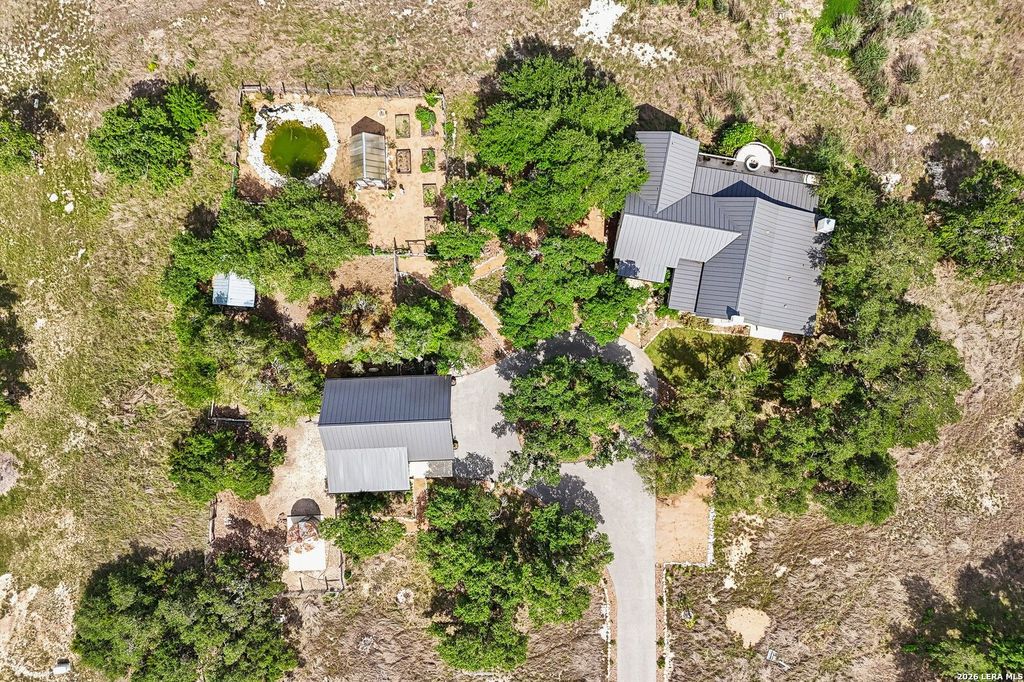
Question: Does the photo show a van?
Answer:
No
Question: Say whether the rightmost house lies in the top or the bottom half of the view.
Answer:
top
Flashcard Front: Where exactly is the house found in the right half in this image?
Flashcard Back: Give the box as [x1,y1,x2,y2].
[613,131,836,336]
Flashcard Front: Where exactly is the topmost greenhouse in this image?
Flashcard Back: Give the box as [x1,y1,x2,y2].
[348,132,389,189]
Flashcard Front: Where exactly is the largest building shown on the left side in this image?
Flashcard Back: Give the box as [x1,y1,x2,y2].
[318,376,453,493]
